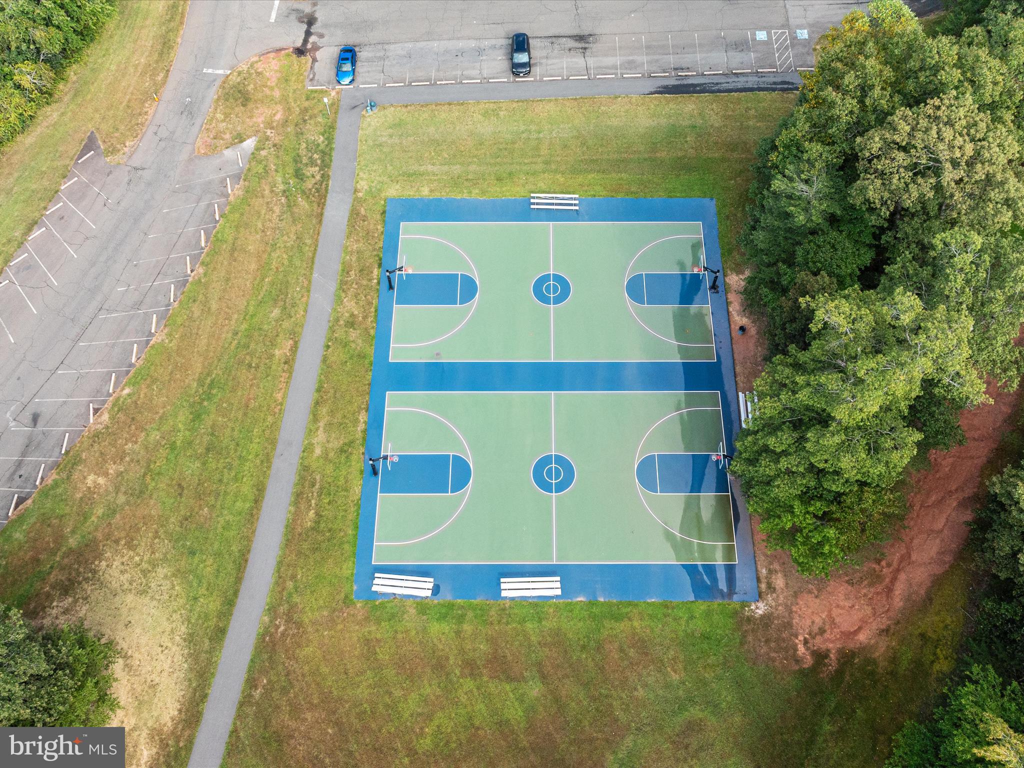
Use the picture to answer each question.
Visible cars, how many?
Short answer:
two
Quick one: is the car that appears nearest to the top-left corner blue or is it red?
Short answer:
blue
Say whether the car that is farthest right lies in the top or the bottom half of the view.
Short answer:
top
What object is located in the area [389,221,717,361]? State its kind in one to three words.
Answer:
basketball court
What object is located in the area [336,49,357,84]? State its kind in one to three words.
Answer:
car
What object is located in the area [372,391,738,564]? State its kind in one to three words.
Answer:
basketball court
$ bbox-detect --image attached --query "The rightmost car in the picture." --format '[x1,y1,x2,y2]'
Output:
[511,33,531,75]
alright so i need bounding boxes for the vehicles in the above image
[336,49,357,84]
[511,33,531,75]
